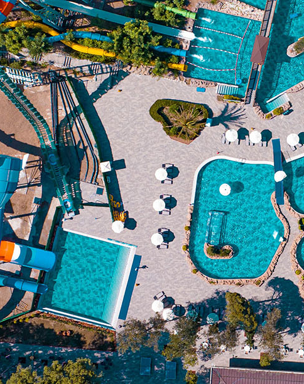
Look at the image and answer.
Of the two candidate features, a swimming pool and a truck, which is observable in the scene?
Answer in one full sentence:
Of the two, only a swimming pool appears.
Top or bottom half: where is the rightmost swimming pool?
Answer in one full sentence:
It is in the top half that the rightmost swimming pool appears.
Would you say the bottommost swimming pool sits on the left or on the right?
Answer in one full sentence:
It is on the left.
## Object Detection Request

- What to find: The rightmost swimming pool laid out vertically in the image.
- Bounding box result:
[257,0,304,110]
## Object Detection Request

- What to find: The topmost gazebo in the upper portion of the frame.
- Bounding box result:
[250,34,270,64]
